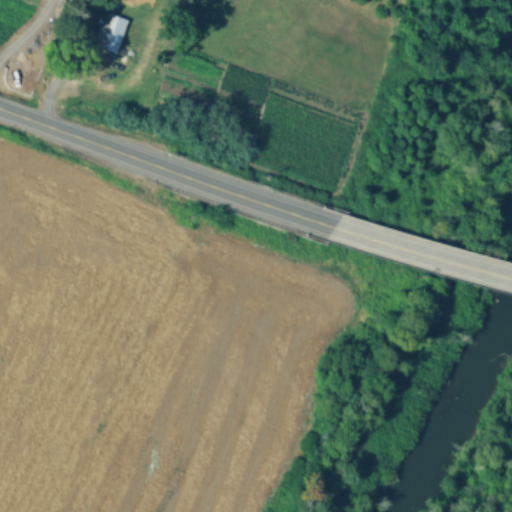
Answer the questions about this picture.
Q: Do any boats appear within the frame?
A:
No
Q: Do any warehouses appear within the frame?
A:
No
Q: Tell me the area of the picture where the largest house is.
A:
top left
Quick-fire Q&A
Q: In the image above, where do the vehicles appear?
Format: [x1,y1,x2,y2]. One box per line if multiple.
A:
[12,70,22,89]
[112,62,126,71]
[101,72,117,82]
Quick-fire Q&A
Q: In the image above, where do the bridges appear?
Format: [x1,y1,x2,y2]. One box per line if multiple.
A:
[332,212,512,294]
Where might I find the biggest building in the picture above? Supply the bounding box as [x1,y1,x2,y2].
[88,12,130,52]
